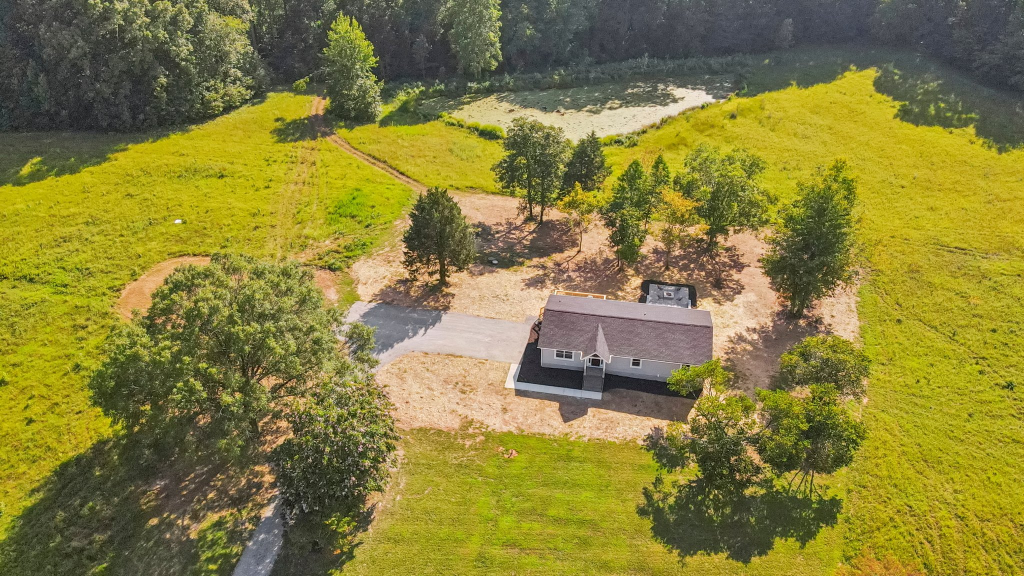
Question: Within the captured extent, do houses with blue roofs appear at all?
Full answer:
No, there's no house with a blue roof here.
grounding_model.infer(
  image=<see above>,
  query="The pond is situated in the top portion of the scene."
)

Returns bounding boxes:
[428,79,740,148]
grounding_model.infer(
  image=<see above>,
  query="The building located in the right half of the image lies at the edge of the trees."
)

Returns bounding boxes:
[538,295,713,390]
